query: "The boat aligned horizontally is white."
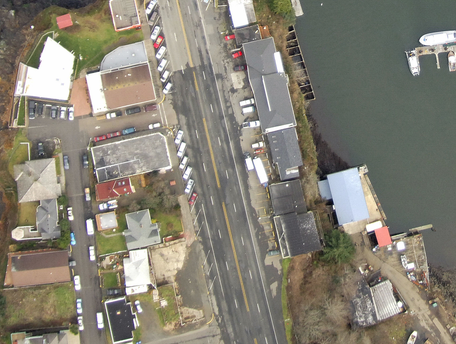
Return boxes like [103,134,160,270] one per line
[419,30,456,44]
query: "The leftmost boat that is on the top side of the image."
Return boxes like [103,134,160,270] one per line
[406,50,419,75]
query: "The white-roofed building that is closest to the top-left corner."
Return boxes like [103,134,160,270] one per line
[14,38,76,102]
